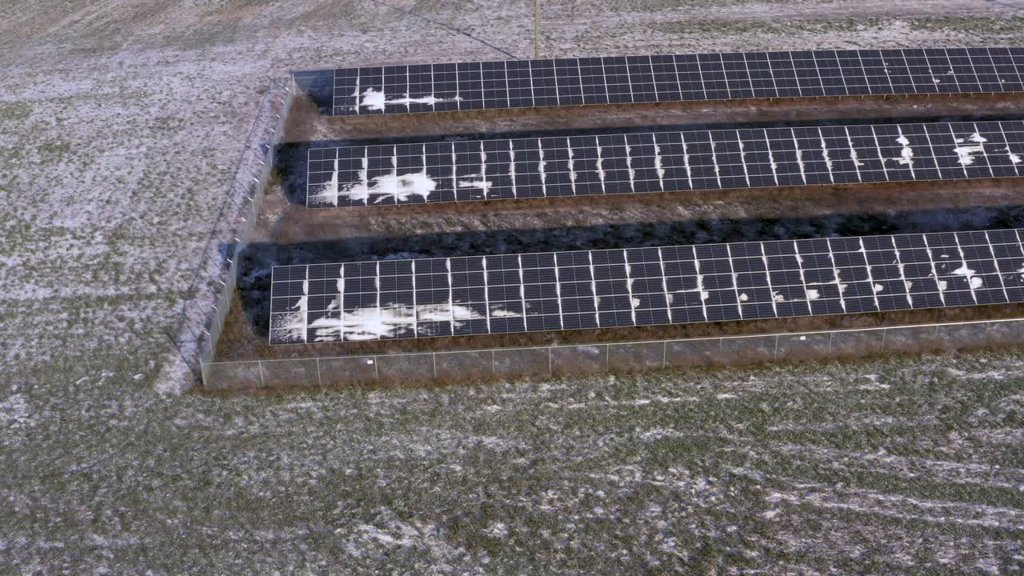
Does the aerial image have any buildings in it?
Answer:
No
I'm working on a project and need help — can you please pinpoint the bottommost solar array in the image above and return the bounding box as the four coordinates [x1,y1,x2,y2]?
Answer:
[268,229,1024,346]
